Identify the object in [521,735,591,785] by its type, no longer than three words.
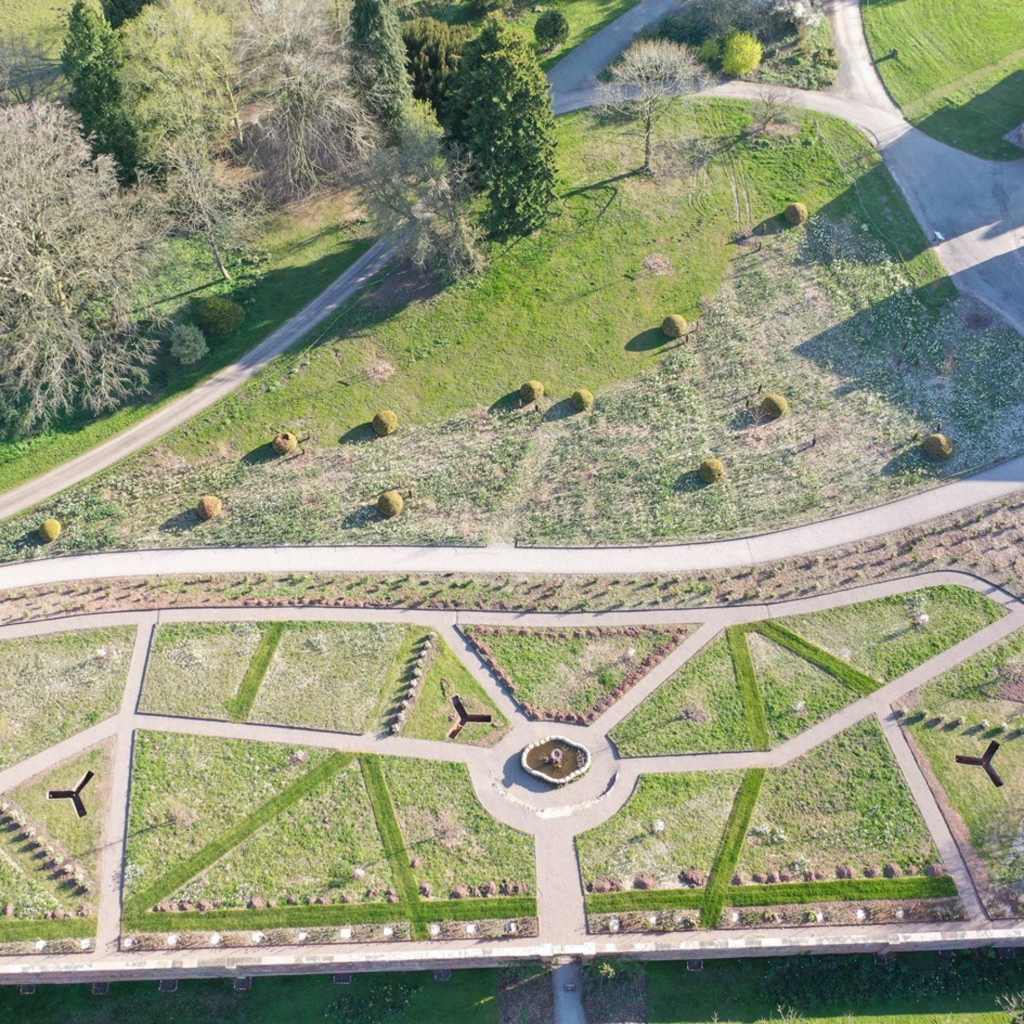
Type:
fountain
